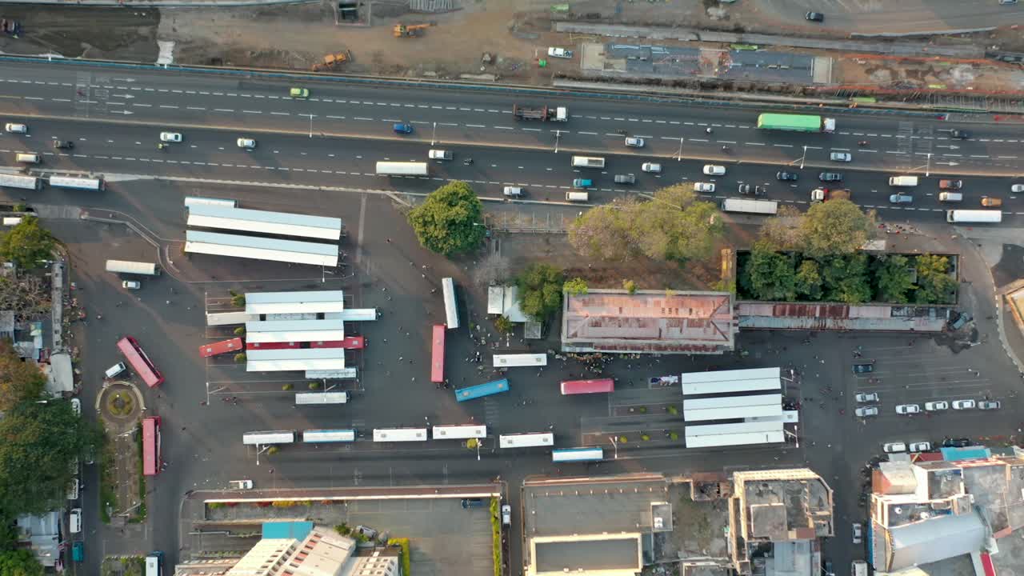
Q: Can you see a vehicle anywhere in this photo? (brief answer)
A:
Yes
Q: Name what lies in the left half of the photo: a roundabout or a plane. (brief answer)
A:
roundabout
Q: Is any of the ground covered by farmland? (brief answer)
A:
No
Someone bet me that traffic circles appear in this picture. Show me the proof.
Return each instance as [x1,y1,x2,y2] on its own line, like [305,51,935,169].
[95,376,146,429]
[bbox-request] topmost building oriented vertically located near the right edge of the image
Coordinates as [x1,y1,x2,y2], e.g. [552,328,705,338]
[996,279,1024,342]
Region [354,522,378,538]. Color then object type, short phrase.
gray car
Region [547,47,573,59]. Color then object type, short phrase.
white vehicle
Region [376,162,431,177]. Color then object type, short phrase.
white vehicle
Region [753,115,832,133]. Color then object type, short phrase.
green vehicle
